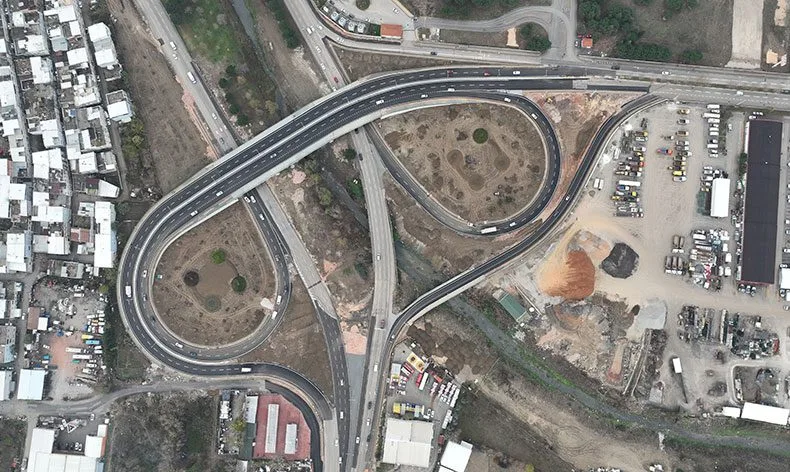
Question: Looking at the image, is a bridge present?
Yes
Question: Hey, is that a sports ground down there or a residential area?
residential area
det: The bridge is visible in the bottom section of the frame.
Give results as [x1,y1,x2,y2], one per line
[403,252,507,319]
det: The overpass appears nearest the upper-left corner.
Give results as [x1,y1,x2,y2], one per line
[198,69,436,212]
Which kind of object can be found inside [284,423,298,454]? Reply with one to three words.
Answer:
shed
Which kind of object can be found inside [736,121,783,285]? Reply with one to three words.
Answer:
building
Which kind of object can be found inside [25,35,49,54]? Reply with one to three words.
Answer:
house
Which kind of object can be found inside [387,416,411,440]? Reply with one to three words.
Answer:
building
